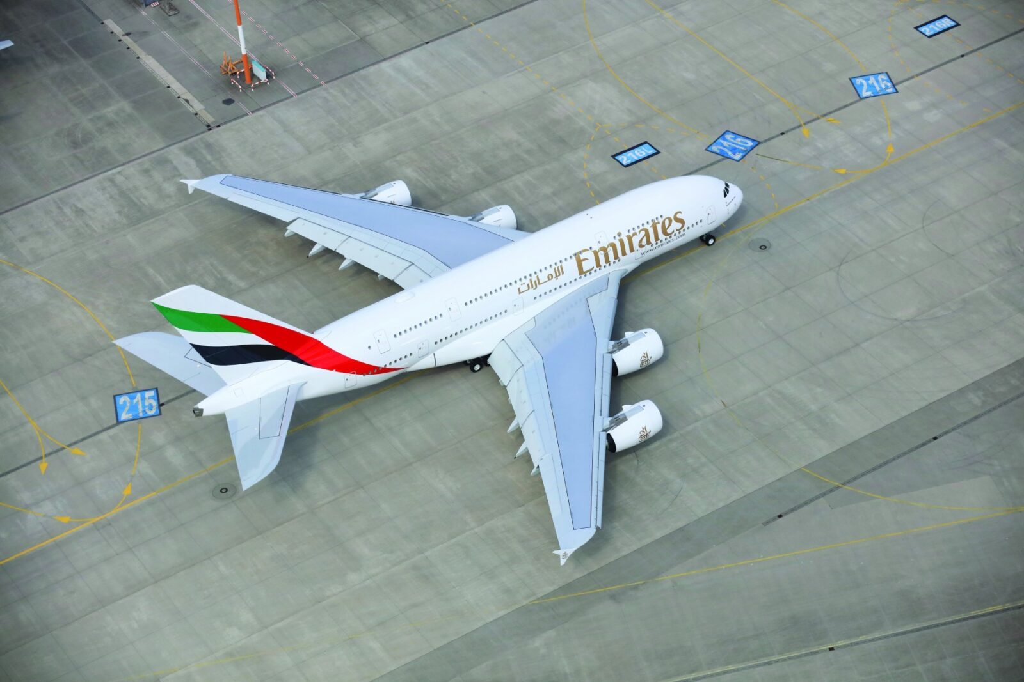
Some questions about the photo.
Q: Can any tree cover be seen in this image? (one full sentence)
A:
No, the picture contains no tree cover.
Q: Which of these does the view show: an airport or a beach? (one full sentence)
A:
The picture captures an airport.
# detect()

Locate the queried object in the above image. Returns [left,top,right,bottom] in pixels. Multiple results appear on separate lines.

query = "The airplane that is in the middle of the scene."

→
[113,175,743,566]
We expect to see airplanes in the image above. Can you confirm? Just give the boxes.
[0,39,14,48]
[113,175,743,566]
